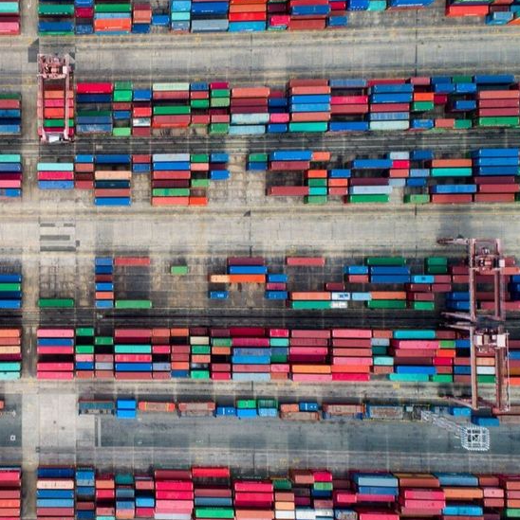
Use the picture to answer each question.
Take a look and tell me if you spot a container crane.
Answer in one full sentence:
Yes, there's a container crane here.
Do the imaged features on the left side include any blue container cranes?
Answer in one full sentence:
No, on the left side there is no blue container crane.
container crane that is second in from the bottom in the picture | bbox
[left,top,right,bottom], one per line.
[430,237,506,320]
